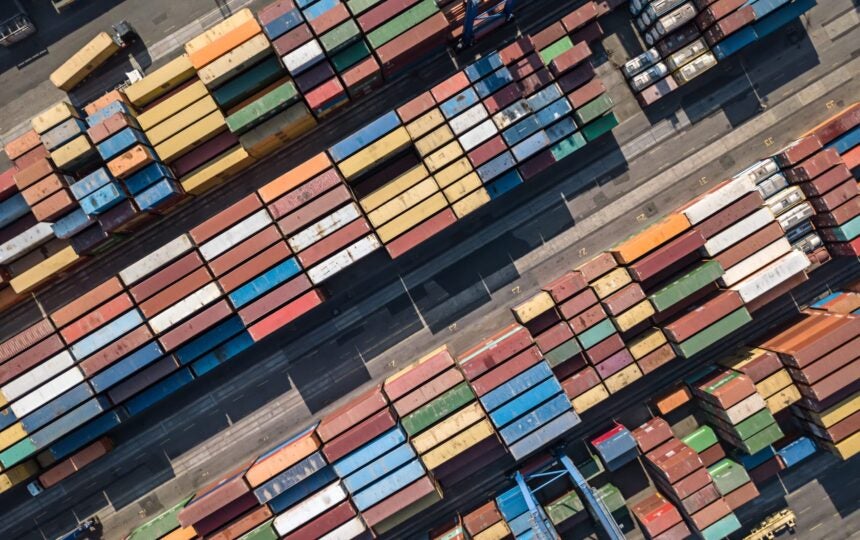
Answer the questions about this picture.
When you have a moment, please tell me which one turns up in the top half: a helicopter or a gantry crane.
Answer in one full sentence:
Visible in the top half is a gantry crane.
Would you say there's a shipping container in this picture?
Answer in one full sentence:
Yes, looking at the shot, I can spot a shipping container.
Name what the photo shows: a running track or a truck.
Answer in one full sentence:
The one in the frame is a truck.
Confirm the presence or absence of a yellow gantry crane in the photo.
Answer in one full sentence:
No, no yellow gantry crane is visible in the view.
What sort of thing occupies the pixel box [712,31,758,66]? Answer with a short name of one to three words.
shipping container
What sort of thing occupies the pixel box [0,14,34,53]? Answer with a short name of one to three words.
trailer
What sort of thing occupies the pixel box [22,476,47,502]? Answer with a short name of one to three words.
truck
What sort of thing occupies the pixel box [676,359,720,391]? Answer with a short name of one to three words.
shipping container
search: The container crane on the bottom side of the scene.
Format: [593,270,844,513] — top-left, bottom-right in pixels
[499,436,634,540]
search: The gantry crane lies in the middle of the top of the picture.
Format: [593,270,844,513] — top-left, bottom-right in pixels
[450,0,524,53]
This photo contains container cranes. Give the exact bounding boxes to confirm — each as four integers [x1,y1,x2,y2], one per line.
[499,436,634,540]
[450,0,524,53]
